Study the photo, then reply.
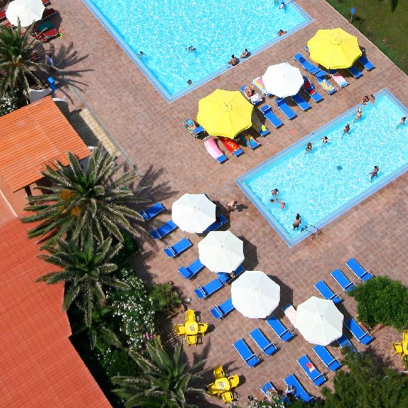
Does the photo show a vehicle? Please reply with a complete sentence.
No, I can see no vehicle in this picture.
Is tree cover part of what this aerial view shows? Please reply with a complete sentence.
Yes, tree cover can be seen from above here.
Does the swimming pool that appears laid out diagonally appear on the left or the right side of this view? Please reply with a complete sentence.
It is on the right.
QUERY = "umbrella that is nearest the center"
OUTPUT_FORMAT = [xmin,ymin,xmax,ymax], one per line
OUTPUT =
[171,192,218,233]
